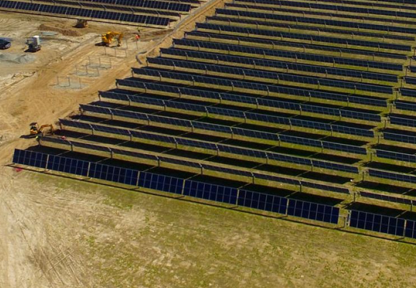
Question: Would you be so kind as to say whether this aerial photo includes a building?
No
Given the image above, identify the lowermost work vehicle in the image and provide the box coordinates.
[30,121,59,135]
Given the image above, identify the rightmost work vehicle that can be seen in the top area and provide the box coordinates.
[99,30,128,45]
